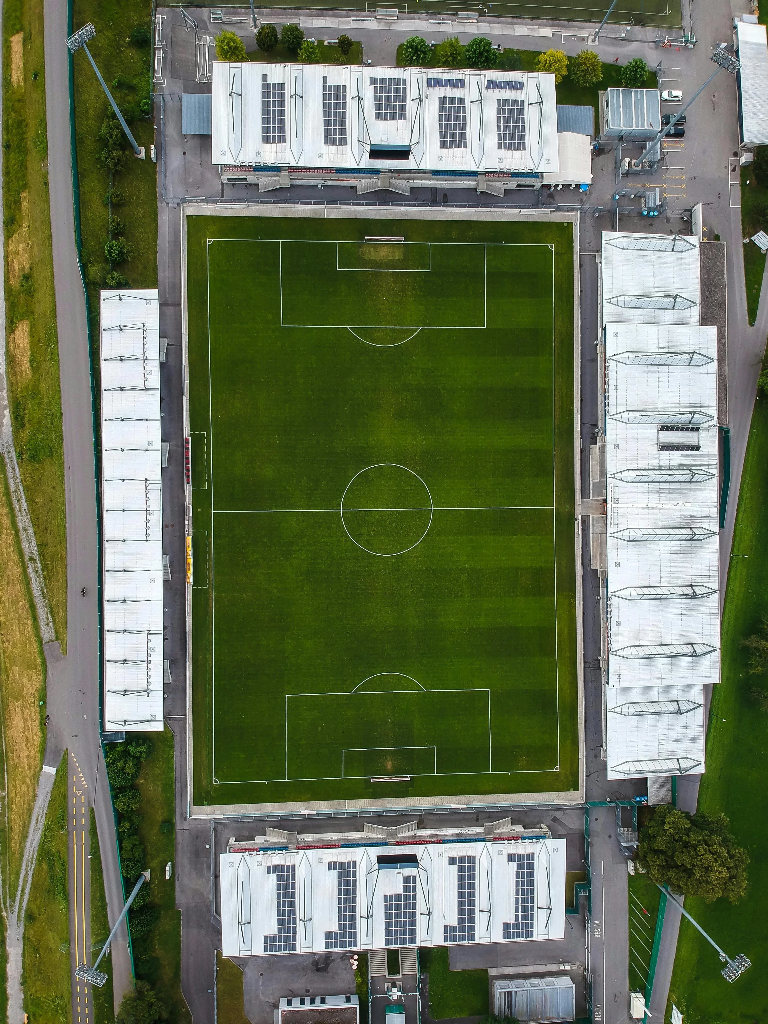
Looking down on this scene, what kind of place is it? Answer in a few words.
sports ground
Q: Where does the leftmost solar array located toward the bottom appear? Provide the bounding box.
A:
[263,864,297,953]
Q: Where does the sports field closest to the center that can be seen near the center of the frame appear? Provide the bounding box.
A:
[187,215,579,806]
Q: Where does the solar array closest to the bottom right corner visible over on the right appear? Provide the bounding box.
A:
[502,853,535,940]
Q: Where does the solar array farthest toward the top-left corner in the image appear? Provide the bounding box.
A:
[262,74,286,144]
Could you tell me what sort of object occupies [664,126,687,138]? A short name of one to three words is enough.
vehicle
